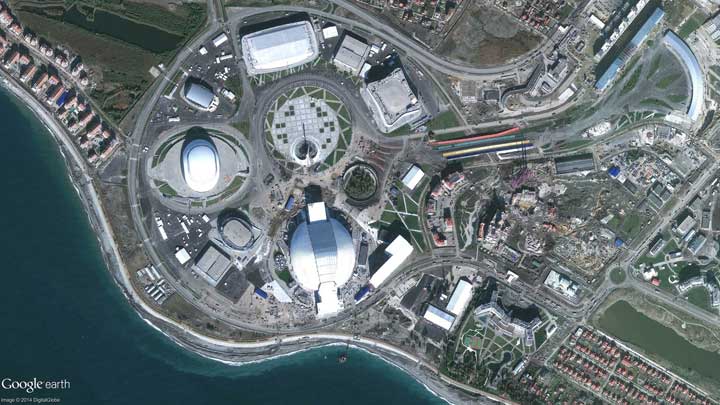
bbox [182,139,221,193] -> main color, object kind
white stadium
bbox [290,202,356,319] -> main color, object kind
white stadium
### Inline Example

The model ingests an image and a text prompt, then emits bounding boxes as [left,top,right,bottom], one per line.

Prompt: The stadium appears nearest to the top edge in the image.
[242,20,319,75]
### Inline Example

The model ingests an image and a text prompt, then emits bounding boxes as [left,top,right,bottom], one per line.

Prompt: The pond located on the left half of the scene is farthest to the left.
[64,4,185,53]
